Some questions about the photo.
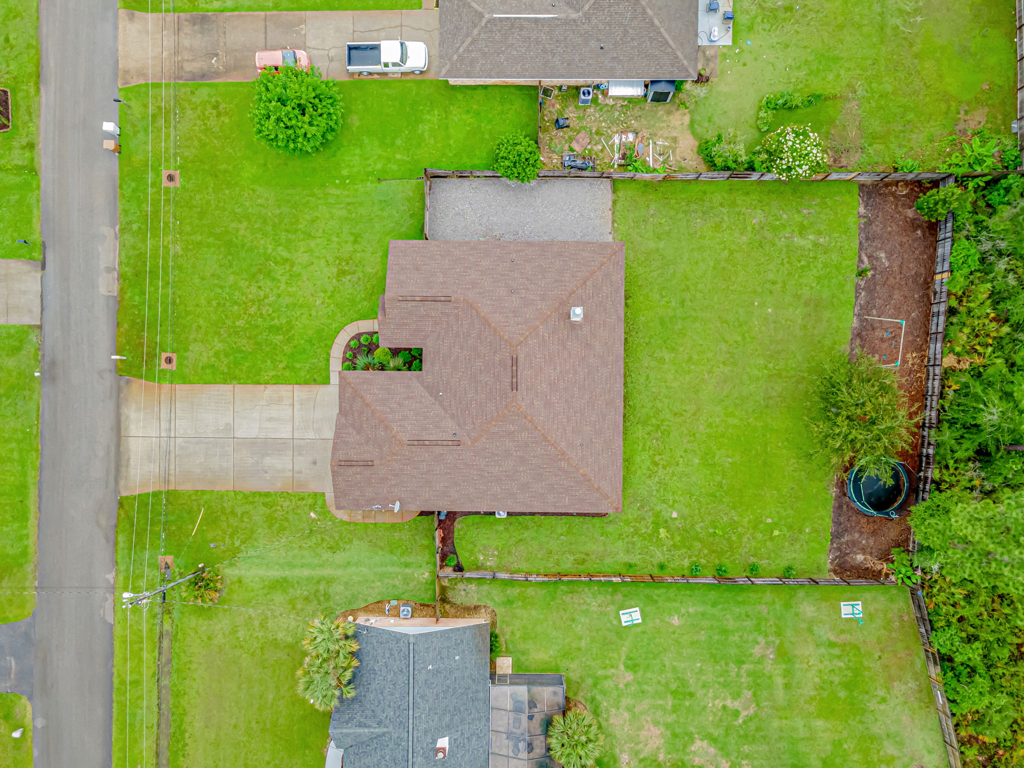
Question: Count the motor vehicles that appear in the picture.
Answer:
2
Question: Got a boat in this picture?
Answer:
No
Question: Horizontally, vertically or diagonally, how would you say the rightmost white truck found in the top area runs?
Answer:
horizontally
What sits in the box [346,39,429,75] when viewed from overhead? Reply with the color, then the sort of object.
white truck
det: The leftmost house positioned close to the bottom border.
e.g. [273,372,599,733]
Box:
[326,617,491,768]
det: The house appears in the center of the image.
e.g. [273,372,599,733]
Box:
[331,240,625,513]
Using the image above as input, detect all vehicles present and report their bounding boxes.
[346,39,429,75]
[255,46,310,75]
